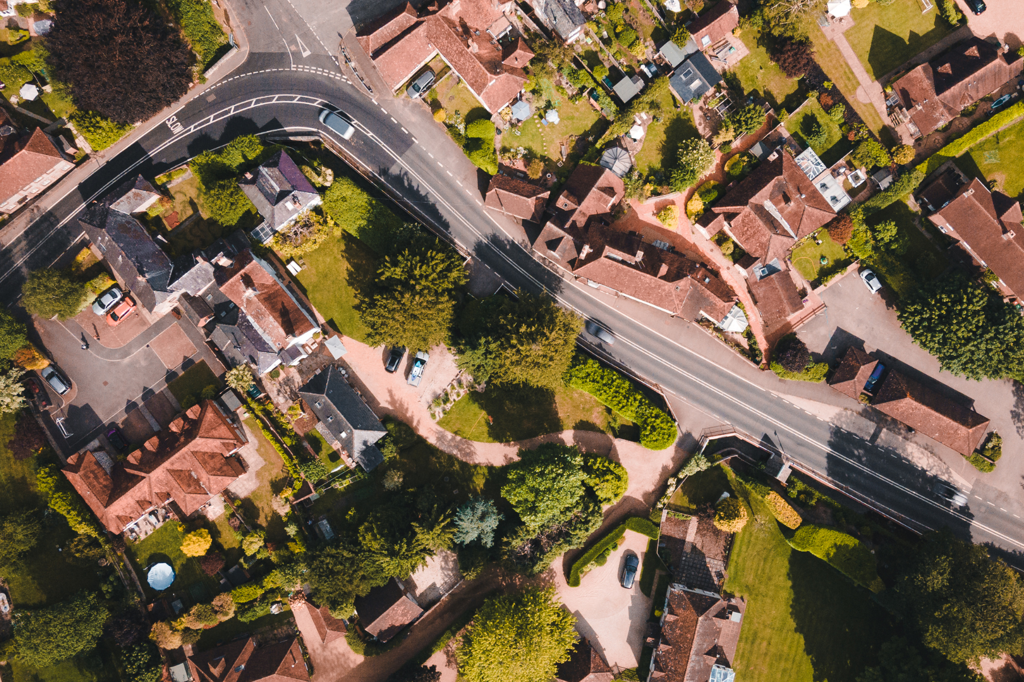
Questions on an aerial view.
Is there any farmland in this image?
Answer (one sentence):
No, there's no farmland in this view.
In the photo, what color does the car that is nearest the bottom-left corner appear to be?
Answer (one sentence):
The car that is nearest the bottom-left corner looks black in the image.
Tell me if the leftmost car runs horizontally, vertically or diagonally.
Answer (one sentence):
In this picture, the leftmost car is oriented diagonally.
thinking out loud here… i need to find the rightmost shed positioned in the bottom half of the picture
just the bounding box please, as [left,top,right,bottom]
[864,368,990,457]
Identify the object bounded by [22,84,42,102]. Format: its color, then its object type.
white umbrella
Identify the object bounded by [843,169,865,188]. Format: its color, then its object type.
white gazebo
